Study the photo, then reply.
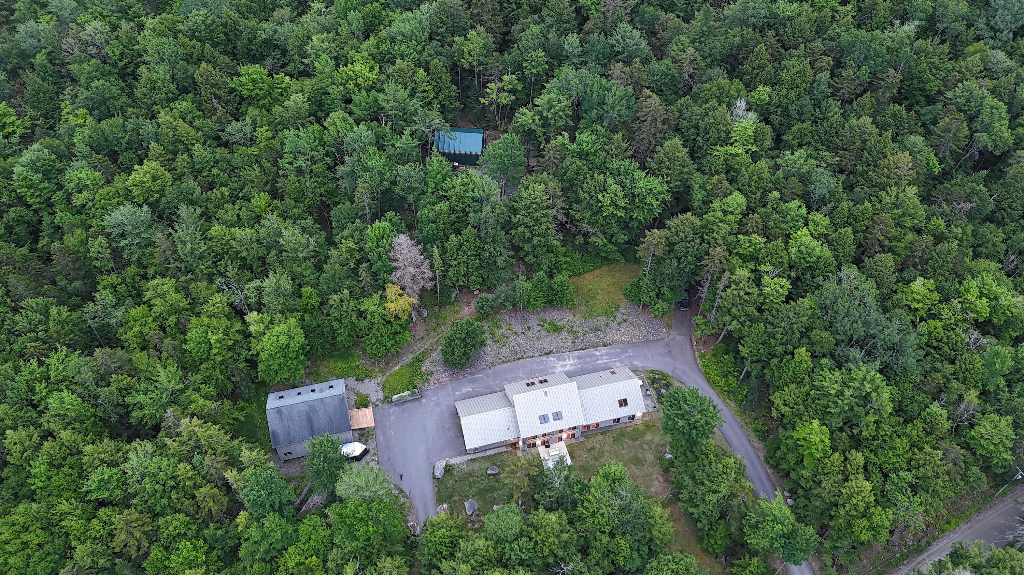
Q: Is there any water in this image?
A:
No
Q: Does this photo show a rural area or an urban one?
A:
rural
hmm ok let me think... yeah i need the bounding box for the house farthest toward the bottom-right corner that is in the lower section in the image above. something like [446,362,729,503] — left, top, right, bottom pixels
[455,366,645,455]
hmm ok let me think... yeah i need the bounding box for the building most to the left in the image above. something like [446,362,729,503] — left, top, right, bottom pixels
[266,379,353,461]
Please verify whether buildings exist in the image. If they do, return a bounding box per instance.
[431,127,486,164]
[455,366,645,455]
[266,379,353,461]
